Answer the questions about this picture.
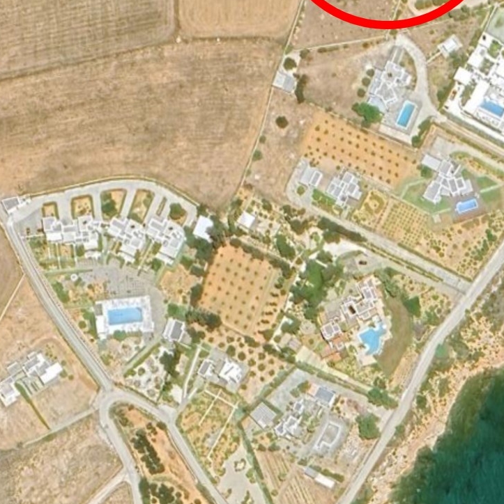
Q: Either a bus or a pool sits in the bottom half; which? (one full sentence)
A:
What appears in the bottom half is a pool.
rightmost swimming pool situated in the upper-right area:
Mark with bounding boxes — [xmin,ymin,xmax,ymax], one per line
[480,98,504,119]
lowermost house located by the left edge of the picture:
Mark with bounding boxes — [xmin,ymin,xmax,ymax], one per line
[0,352,62,407]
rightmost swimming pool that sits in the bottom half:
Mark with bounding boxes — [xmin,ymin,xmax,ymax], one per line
[357,321,387,356]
